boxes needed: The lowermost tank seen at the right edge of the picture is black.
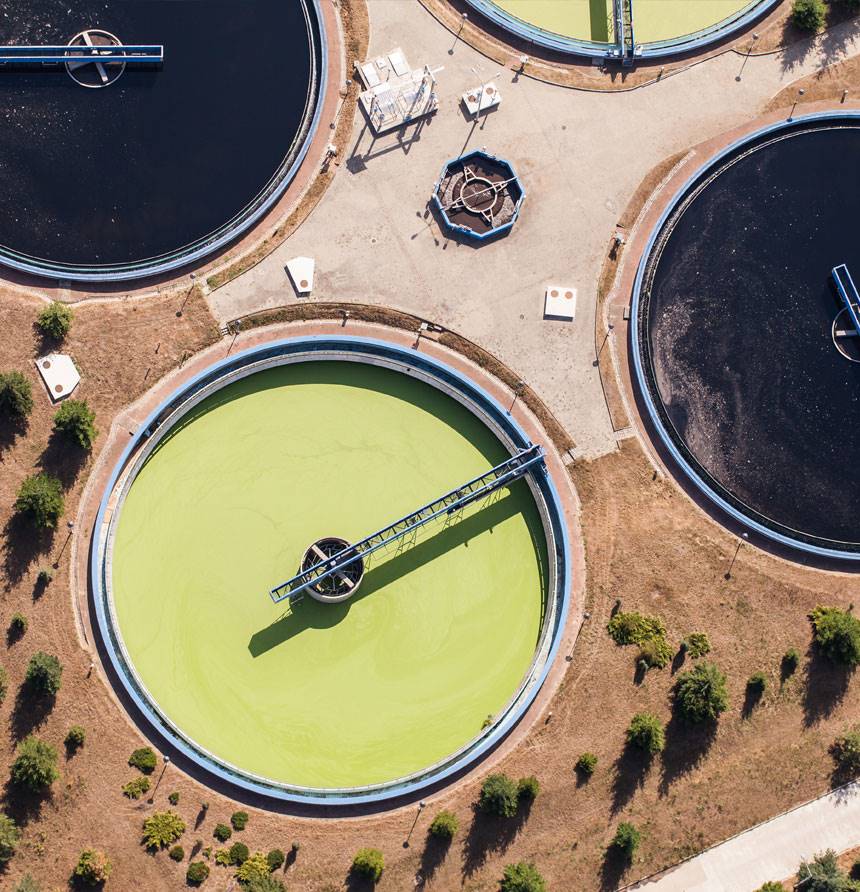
[631,109,860,563]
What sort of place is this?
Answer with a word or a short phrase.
industrial area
